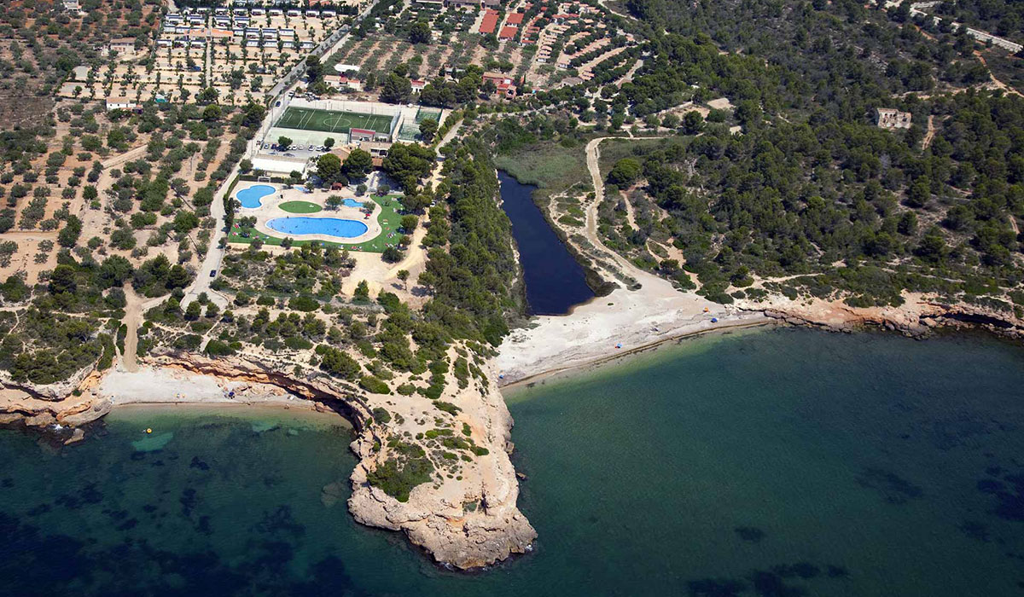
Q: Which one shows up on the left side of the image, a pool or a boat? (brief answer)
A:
pool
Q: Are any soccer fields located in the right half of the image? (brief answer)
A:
No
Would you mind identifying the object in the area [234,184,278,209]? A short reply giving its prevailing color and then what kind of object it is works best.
blue swimming pool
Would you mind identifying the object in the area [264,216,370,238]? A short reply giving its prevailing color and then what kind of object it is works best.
blue swimming pool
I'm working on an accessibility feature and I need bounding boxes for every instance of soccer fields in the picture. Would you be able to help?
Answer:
[274,107,392,133]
